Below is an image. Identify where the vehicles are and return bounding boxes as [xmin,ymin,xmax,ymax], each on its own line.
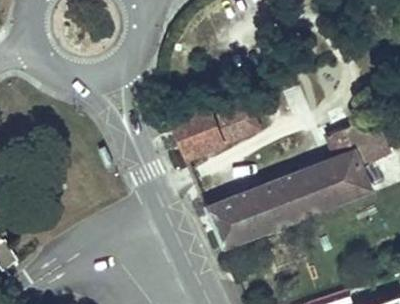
[234,164,258,178]
[72,80,90,98]
[222,0,235,18]
[236,0,246,10]
[368,164,382,184]
[96,144,115,169]
[94,258,114,268]
[130,113,142,133]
